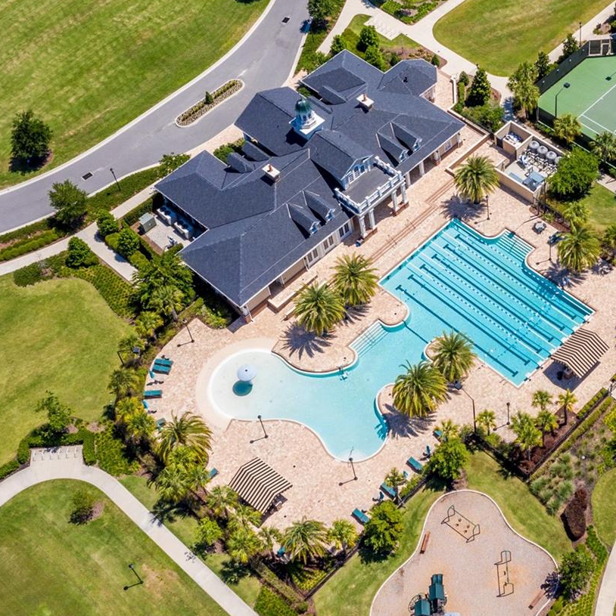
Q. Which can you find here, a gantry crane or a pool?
pool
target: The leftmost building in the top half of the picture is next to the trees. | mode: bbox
[153,48,466,323]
